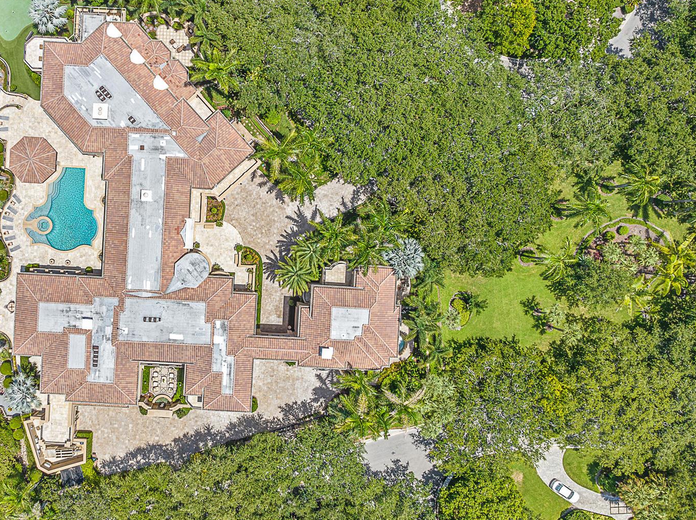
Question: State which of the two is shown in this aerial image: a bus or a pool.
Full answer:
There is a pool in the scene.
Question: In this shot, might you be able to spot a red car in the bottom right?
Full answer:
No, no red car appears in the bottom right.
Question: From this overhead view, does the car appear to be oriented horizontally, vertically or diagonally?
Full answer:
In this picture, the car is oriented diagonally.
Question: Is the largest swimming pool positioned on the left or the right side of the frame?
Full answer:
The largest swimming pool appears in the left half of the scene.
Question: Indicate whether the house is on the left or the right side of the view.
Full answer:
The house sits on the left side.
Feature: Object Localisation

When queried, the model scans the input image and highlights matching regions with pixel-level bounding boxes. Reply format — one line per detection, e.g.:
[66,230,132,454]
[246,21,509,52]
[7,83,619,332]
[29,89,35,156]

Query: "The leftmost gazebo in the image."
[8,136,64,184]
